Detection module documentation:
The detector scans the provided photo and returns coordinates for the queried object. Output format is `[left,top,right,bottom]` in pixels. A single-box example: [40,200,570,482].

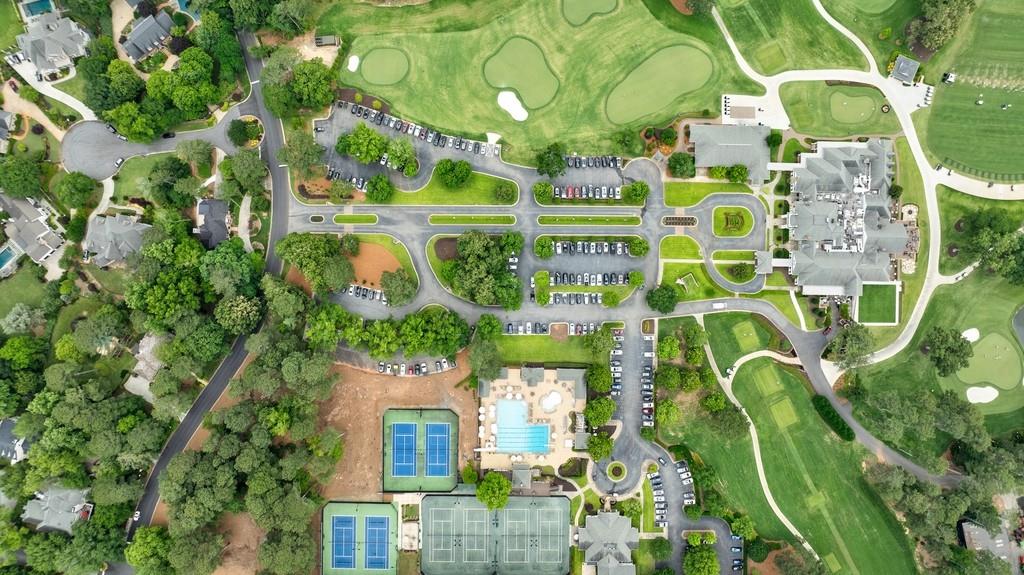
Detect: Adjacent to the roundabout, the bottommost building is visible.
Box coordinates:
[578,509,638,575]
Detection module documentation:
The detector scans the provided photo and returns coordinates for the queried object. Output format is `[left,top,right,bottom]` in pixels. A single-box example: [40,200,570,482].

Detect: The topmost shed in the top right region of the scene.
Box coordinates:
[887,55,919,85]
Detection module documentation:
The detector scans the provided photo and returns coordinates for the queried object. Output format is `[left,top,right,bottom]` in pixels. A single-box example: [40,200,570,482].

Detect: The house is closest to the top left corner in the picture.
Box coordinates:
[23,11,87,76]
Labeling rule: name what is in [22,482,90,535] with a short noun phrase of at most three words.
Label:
house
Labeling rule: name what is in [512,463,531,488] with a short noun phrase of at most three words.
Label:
building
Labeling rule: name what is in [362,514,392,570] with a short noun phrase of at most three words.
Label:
tennis court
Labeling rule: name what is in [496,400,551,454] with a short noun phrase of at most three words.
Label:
swimming pool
